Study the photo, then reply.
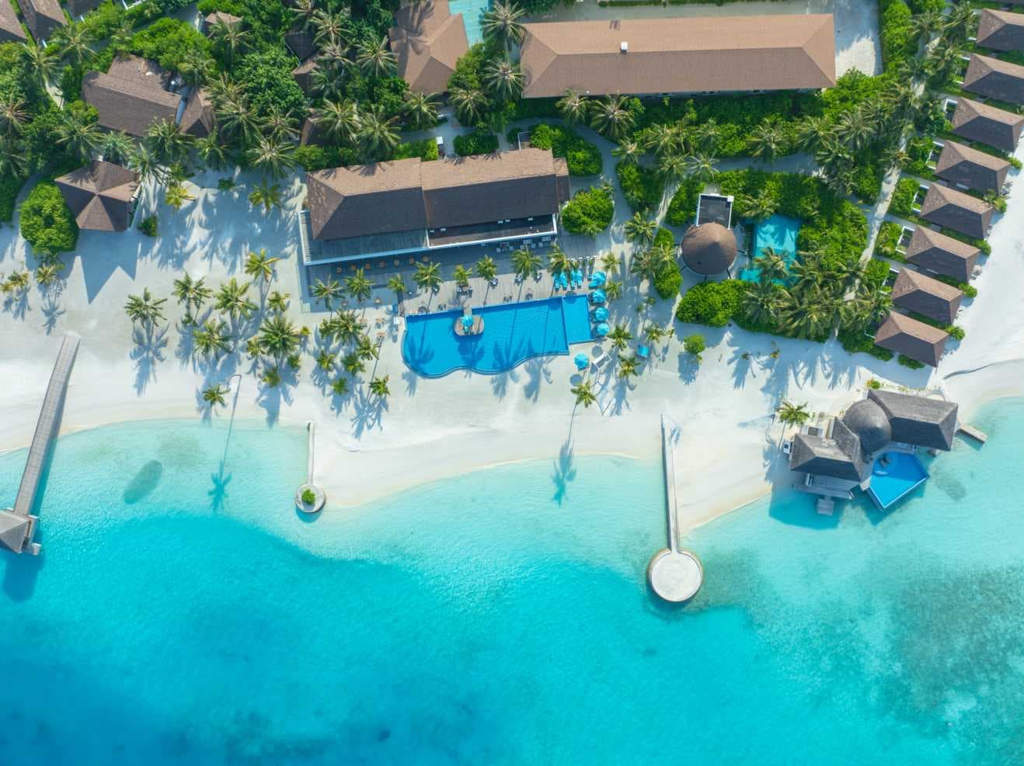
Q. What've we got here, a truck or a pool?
pool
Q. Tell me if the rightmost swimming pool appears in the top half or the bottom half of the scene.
top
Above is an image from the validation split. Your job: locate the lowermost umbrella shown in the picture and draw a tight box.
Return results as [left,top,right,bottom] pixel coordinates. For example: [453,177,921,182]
[574,354,588,369]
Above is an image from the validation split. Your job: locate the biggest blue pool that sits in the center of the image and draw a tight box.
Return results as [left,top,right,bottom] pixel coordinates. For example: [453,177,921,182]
[397,295,590,382]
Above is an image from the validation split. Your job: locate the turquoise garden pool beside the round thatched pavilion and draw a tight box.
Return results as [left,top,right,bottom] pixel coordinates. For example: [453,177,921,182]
[739,213,799,288]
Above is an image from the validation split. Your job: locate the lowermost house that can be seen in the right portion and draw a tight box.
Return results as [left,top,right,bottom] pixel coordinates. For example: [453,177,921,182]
[782,384,959,515]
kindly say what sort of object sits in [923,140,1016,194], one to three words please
house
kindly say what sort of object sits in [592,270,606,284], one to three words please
umbrella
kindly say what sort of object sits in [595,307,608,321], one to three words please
umbrella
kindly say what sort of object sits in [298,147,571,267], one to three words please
building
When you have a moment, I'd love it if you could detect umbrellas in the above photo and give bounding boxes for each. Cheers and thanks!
[570,269,582,281]
[595,307,608,321]
[555,271,567,283]
[597,323,609,335]
[592,289,606,303]
[462,315,473,327]
[592,270,606,284]
[574,354,588,369]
